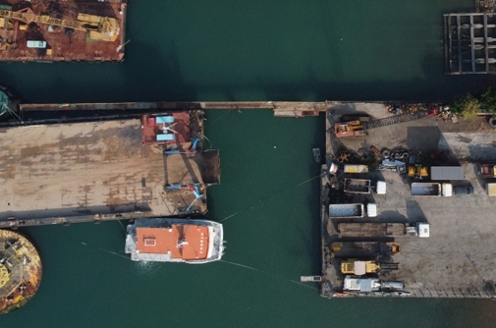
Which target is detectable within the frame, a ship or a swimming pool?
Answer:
ship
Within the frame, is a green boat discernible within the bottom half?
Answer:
No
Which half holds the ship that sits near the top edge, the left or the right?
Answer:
left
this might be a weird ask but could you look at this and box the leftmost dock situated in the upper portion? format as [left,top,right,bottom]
[12,101,326,116]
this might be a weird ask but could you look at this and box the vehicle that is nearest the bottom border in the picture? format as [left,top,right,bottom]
[344,276,405,294]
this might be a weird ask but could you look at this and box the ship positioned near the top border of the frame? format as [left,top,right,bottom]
[0,0,129,65]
